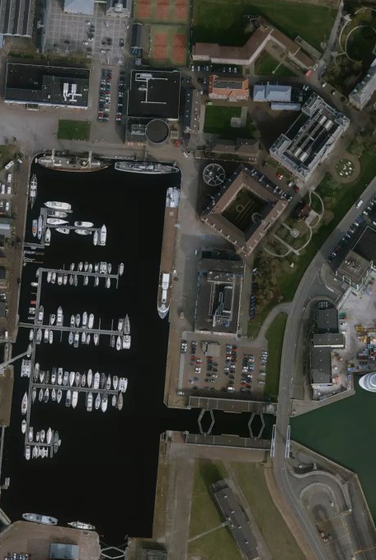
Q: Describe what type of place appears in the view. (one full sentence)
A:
The picture captures a port.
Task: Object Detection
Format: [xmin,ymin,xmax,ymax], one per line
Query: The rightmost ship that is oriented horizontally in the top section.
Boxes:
[114,160,179,173]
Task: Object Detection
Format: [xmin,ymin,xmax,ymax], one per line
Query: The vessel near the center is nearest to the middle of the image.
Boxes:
[158,272,172,319]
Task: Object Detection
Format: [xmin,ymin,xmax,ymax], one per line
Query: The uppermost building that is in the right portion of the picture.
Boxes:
[194,15,320,73]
